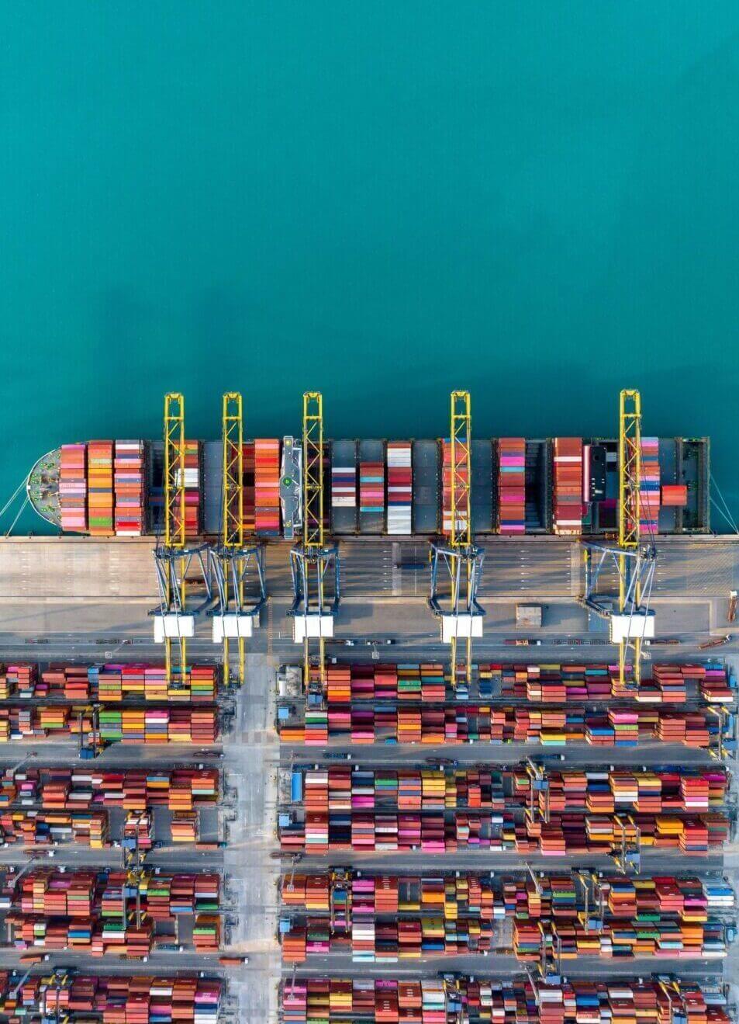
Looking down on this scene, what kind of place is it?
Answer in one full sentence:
This image shows a port.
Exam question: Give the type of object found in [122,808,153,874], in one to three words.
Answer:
container crane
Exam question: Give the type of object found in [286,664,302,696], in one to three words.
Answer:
building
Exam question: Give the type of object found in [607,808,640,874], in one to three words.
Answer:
container crane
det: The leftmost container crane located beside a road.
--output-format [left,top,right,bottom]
[42,967,77,1024]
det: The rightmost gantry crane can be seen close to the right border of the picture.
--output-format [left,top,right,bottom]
[695,702,733,764]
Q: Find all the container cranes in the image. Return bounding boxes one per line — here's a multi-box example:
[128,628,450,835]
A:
[607,808,640,874]
[521,758,549,822]
[78,702,112,764]
[330,864,352,934]
[572,864,603,934]
[580,388,662,687]
[695,702,733,764]
[203,388,272,687]
[425,389,489,687]
[122,808,153,874]
[531,915,560,986]
[438,967,462,1024]
[42,967,77,1024]
[287,388,348,687]
[122,864,154,934]
[306,652,329,710]
[145,388,220,687]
